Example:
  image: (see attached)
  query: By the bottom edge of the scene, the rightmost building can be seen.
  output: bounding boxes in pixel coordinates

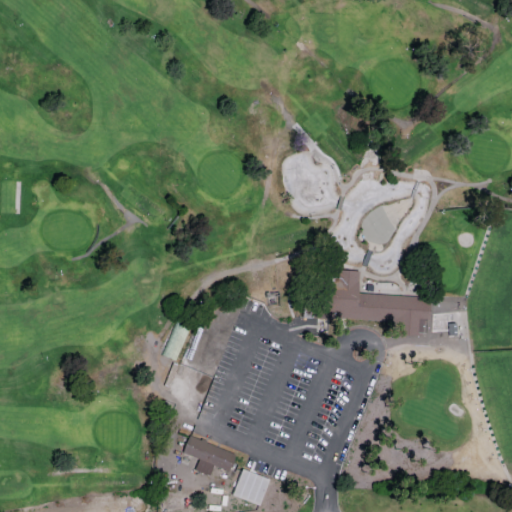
[231,469,270,506]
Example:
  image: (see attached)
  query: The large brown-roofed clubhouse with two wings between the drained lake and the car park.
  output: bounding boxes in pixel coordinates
[330,270,434,338]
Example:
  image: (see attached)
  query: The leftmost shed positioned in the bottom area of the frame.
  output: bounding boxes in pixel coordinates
[162,321,190,360]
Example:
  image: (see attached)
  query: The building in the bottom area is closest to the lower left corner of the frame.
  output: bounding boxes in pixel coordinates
[182,436,237,475]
